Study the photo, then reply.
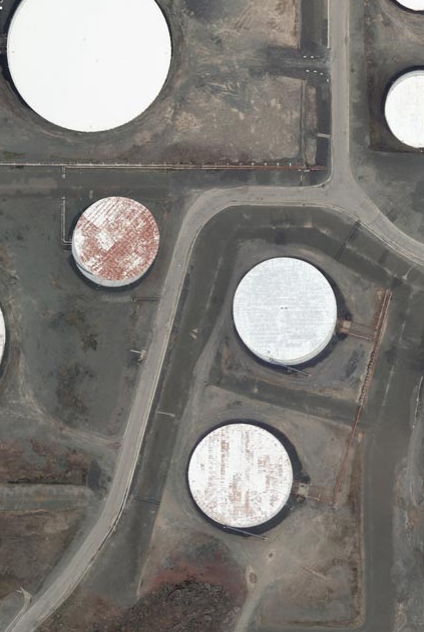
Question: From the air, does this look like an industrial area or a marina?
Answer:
industrial area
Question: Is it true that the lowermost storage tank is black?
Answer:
No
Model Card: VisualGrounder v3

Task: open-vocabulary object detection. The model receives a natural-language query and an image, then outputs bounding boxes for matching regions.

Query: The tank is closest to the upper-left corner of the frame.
[0,0,172,135]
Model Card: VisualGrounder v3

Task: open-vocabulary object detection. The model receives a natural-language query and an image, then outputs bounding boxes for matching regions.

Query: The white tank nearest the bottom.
[184,417,302,541]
